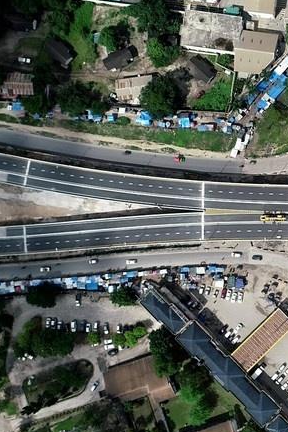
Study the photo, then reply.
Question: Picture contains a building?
Yes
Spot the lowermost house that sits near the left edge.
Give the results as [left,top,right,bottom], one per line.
[0,74,36,97]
